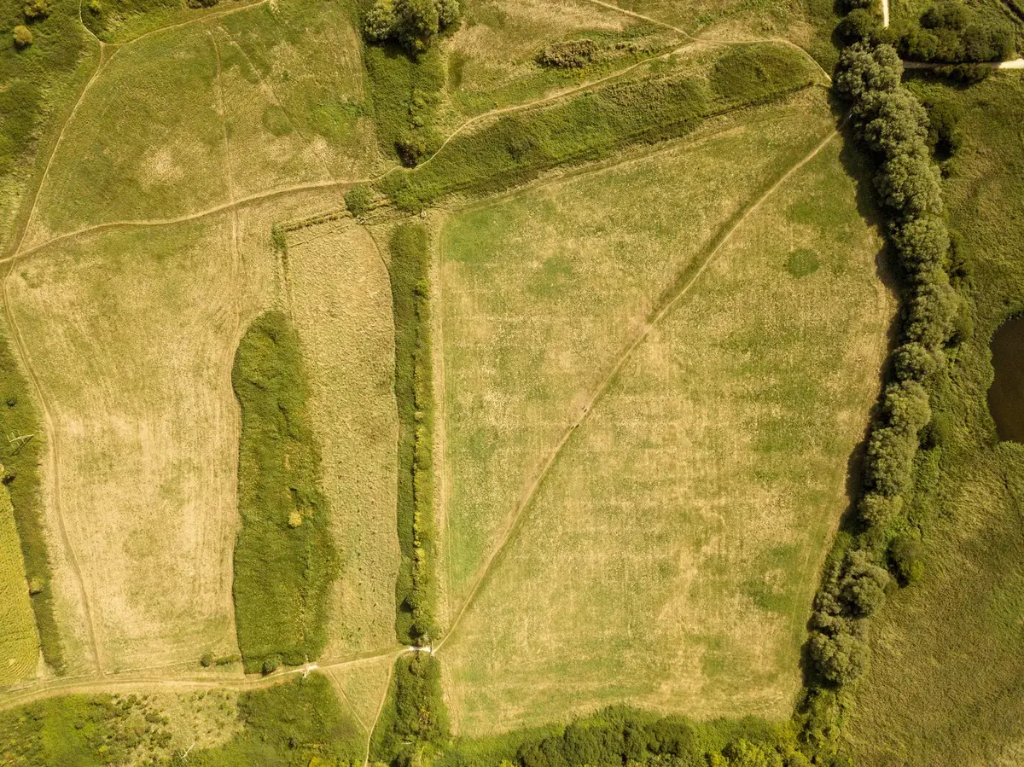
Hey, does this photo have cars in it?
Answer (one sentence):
No, I can see no car in this picture.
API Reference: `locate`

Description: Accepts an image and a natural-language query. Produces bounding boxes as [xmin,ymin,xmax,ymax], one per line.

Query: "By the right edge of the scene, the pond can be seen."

[988,310,1024,441]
